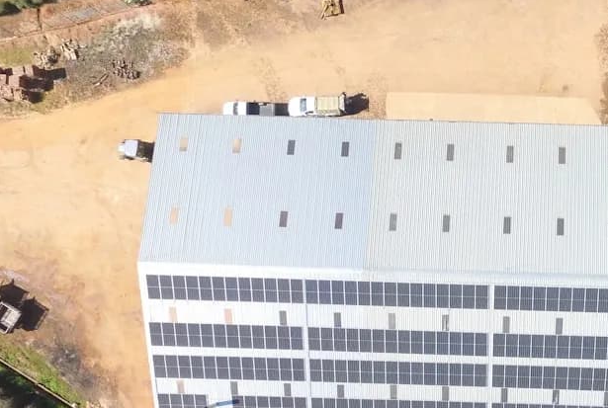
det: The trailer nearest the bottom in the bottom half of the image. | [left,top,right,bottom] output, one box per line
[0,301,37,334]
